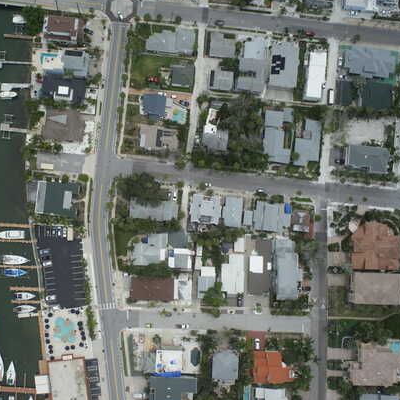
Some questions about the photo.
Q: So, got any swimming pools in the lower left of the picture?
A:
Yes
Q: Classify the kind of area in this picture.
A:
residential area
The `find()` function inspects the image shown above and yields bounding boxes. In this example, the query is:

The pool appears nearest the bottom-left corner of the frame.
[53,316,78,344]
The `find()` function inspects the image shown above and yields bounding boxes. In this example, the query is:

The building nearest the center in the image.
[191,194,222,224]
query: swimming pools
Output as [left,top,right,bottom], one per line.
[171,109,186,122]
[243,387,249,400]
[39,53,58,65]
[190,347,202,368]
[53,316,78,344]
[389,342,400,351]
